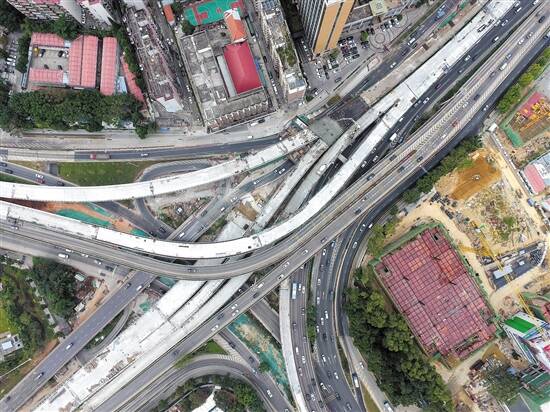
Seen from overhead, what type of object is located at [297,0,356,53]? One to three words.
building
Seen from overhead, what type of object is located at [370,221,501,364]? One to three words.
building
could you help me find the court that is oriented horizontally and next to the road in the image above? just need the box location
[180,0,248,27]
